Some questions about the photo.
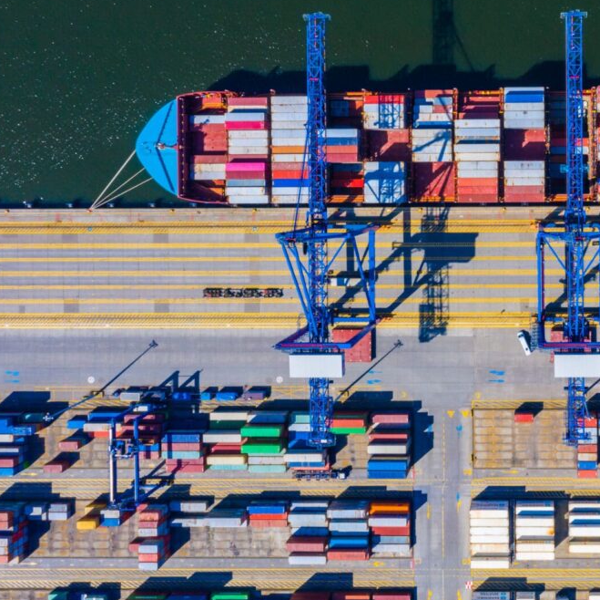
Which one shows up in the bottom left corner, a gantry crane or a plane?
gantry crane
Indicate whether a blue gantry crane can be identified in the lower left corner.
Yes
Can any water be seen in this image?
Yes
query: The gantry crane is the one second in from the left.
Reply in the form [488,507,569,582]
[269,6,395,446]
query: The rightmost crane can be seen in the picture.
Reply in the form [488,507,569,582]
[526,6,600,446]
